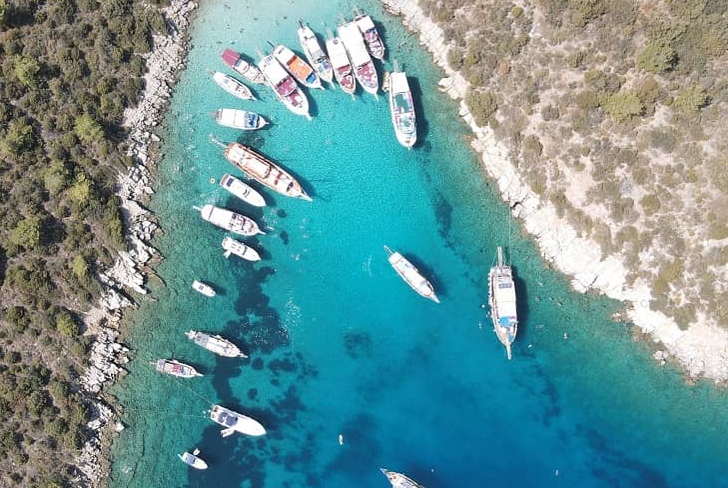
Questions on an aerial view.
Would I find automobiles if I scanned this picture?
No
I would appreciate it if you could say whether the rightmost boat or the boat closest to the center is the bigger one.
the rightmost boat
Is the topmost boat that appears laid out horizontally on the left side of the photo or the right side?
left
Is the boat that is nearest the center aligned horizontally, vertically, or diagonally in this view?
diagonally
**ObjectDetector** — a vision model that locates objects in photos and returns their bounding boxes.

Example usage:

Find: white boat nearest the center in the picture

[384,246,440,303]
